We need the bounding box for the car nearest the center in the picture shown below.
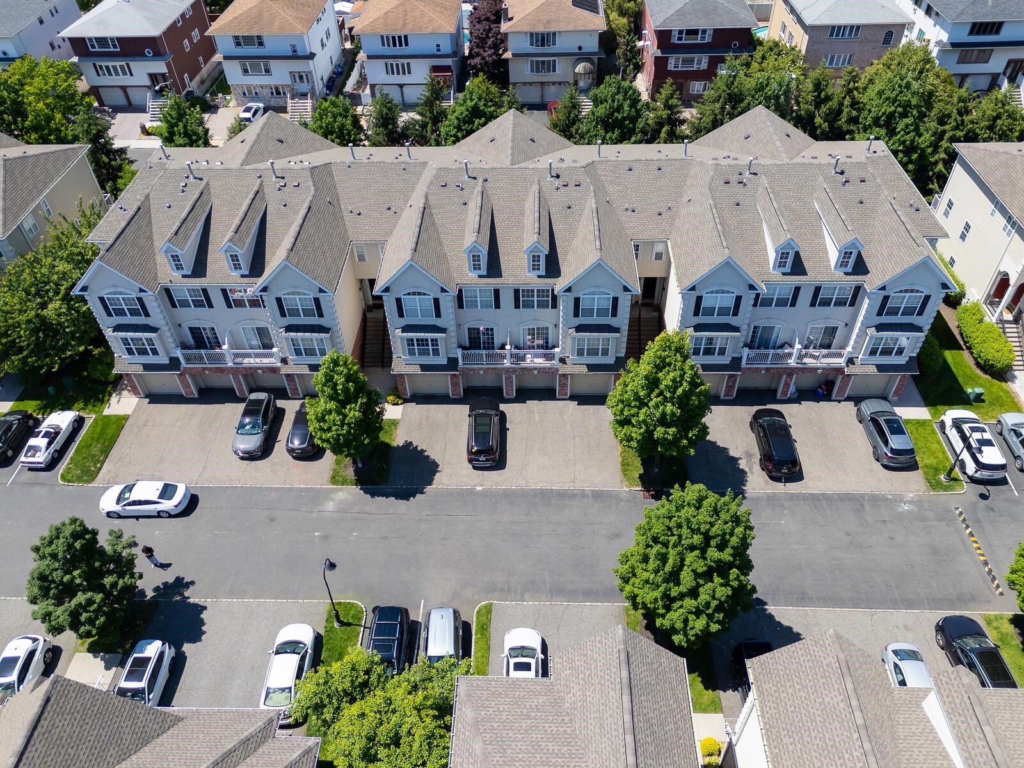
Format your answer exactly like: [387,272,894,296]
[464,399,504,466]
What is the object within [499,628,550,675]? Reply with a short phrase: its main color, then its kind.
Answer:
white car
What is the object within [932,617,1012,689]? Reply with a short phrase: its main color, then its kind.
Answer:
black car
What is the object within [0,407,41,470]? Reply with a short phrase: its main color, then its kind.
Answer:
black car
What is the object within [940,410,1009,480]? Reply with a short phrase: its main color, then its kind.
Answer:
white car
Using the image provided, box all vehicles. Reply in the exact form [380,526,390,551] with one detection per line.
[932,617,1012,689]
[237,101,271,127]
[285,401,325,464]
[940,410,1009,480]
[0,407,41,470]
[256,623,317,731]
[97,483,193,525]
[0,636,52,704]
[423,606,467,671]
[499,628,550,675]
[856,400,917,467]
[874,640,929,684]
[731,649,769,710]
[18,413,80,472]
[464,399,504,466]
[353,608,414,689]
[749,408,801,479]
[112,635,182,704]
[230,389,286,459]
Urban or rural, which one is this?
urban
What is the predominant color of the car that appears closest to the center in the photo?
black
